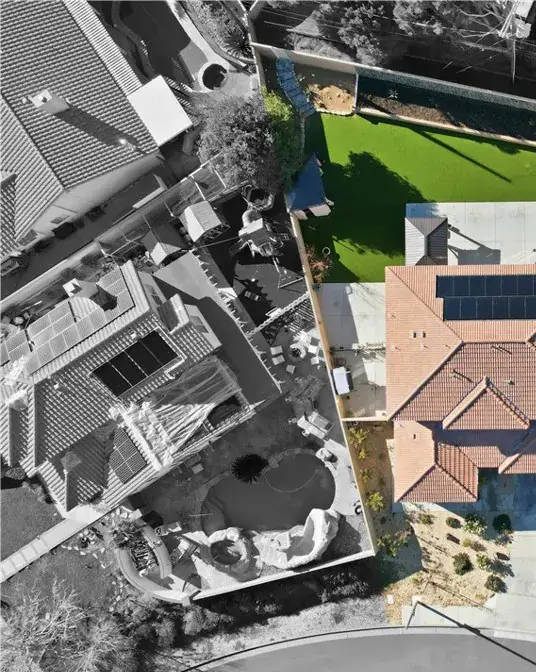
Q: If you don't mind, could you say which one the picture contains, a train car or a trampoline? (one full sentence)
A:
Visible in the photo is a trampoline.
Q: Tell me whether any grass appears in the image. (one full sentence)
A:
Yes, some grass is visible.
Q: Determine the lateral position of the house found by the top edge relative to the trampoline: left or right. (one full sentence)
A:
From the viewer's perspective, the house found by the top edge falls to the left of the trampoline.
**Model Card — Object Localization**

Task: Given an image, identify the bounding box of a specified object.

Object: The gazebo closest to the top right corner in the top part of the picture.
[406,217,447,265]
